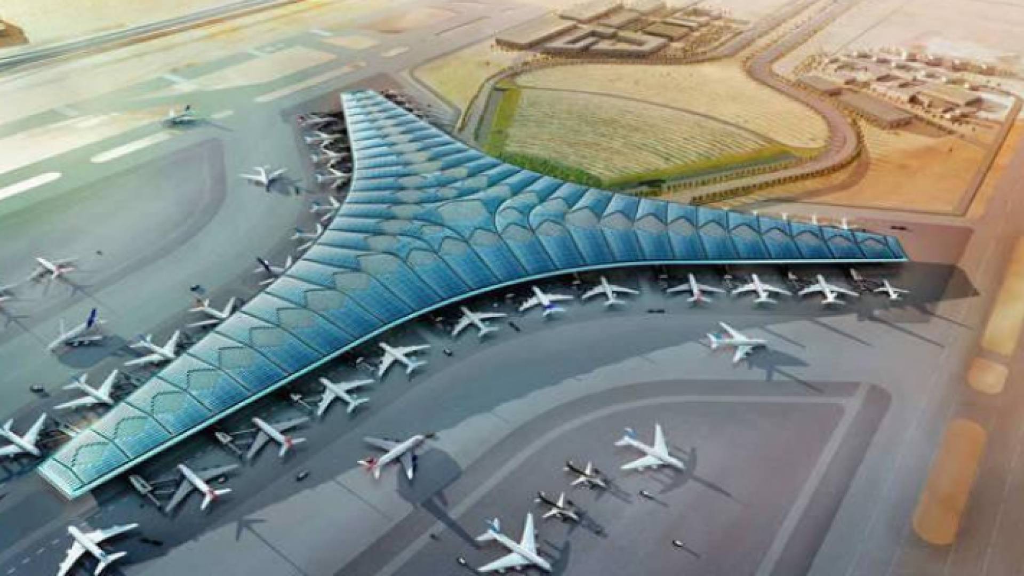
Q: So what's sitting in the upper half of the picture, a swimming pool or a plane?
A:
plane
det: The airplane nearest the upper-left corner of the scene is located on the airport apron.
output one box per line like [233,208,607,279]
[163,106,195,125]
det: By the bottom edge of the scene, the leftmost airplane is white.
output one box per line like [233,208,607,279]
[60,524,134,576]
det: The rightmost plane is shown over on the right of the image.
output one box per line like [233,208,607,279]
[878,282,905,298]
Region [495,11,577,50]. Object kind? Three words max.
shed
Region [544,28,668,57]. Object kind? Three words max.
building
